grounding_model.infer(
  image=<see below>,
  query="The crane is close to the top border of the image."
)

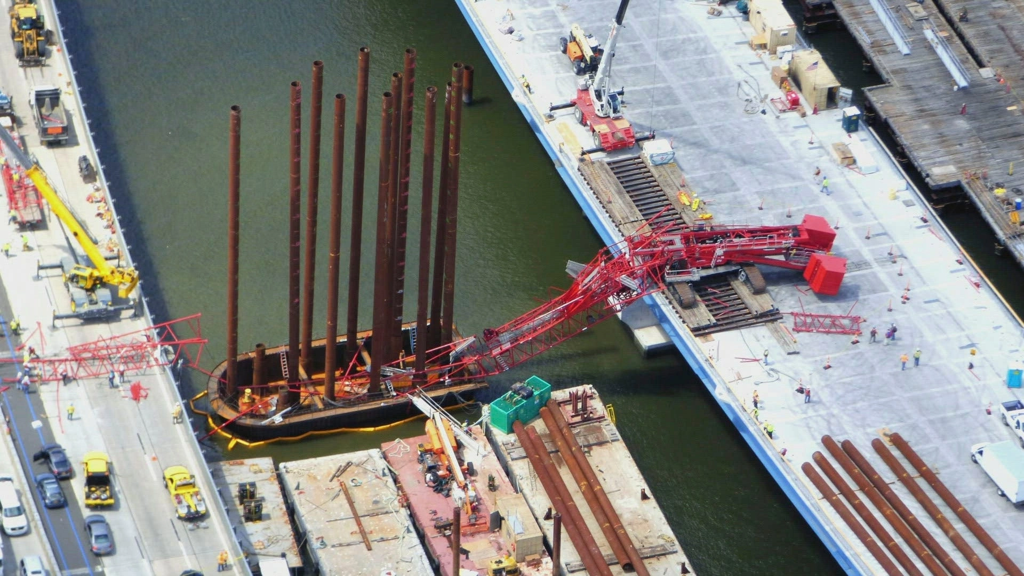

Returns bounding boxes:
[551,0,662,160]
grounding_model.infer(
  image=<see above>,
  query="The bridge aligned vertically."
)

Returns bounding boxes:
[0,0,254,576]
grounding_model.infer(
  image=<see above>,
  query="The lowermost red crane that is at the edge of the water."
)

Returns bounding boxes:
[238,207,847,415]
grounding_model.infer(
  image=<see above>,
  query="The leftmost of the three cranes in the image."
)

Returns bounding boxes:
[0,120,152,338]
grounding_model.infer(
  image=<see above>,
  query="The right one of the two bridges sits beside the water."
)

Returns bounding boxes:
[442,0,1024,576]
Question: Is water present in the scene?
Yes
